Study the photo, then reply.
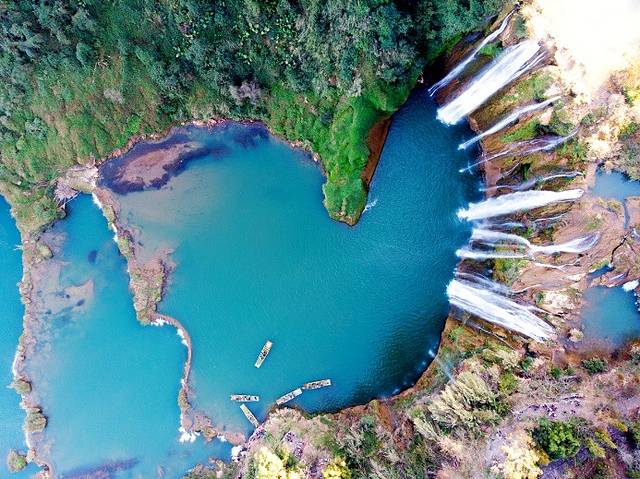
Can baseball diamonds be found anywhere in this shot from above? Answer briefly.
No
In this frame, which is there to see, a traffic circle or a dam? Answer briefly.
dam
